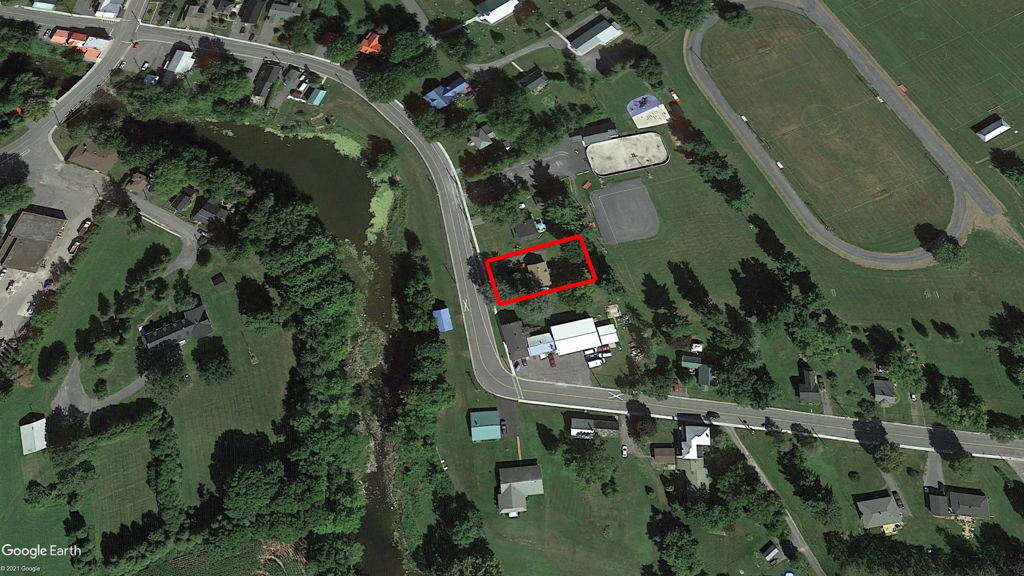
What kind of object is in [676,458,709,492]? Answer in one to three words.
barn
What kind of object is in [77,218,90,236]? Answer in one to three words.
vehicle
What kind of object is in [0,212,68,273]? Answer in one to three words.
building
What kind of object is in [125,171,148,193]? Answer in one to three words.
house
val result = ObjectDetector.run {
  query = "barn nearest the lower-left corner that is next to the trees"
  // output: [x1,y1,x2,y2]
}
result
[20,419,49,452]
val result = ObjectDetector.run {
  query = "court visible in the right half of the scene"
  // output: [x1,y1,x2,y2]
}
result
[586,133,668,175]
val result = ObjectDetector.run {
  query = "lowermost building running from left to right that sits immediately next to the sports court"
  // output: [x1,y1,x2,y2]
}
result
[570,124,619,146]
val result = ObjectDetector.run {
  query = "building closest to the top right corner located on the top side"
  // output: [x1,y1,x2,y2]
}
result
[977,118,1008,143]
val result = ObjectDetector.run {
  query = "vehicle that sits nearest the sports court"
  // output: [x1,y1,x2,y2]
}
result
[669,86,681,104]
